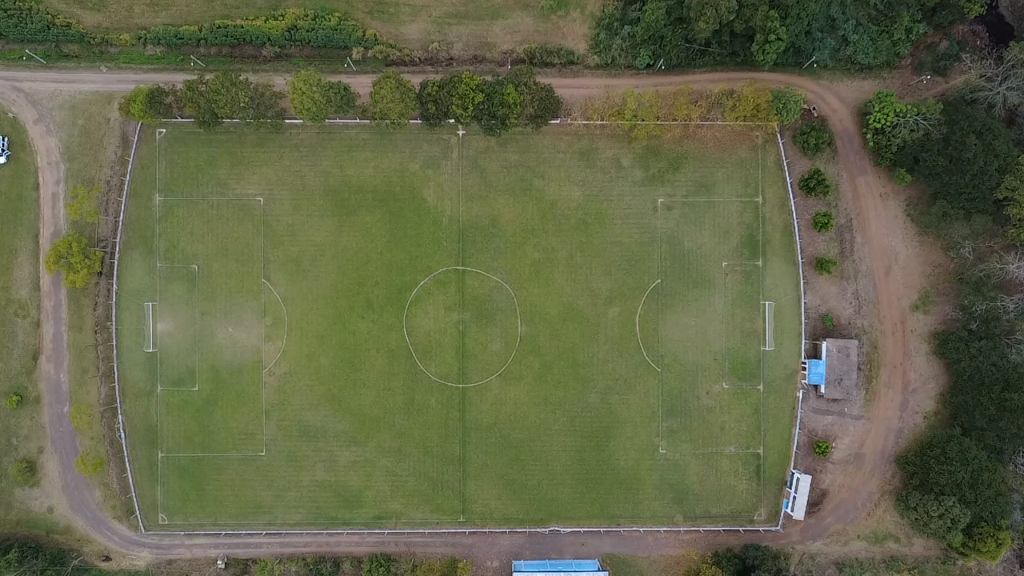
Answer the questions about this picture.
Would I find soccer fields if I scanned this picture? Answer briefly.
Yes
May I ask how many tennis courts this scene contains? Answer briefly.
0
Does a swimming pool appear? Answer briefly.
No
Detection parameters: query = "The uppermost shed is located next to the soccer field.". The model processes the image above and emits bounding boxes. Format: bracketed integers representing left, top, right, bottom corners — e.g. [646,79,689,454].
[800,339,858,400]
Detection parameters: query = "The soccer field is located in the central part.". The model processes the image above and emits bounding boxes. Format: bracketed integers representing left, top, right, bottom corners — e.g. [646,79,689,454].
[118,125,801,529]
